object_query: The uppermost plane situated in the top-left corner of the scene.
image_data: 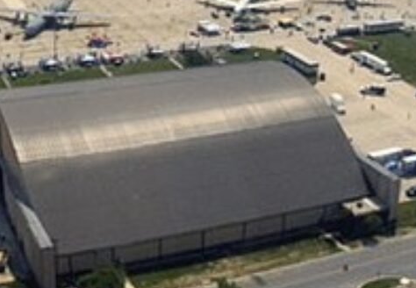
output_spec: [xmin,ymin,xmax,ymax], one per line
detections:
[0,0,104,36]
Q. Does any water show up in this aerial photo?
No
